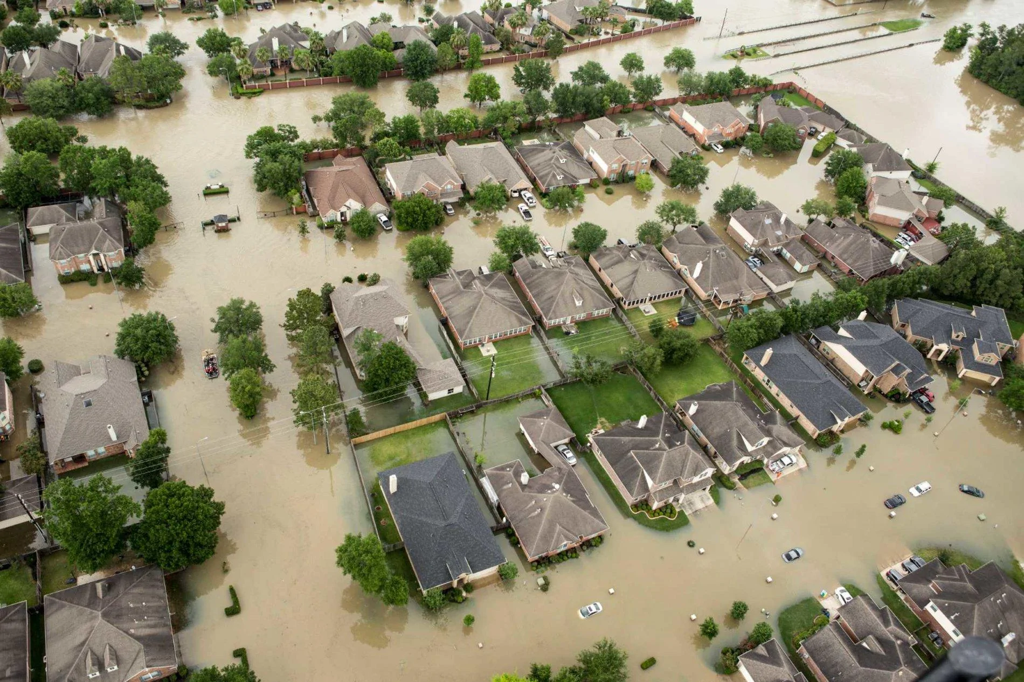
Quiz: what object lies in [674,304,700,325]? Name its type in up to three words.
trampoline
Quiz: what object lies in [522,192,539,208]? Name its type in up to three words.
vehicle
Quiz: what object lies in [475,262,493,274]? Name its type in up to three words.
vehicle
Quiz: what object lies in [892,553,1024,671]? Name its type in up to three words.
house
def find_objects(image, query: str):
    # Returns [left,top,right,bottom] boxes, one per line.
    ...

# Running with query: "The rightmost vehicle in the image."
[956,483,987,501]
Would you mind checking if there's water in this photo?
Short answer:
Yes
